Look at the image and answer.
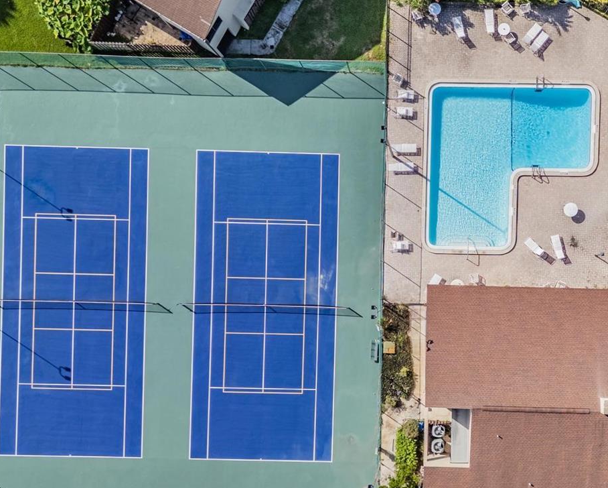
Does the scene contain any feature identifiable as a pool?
Yes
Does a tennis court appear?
Yes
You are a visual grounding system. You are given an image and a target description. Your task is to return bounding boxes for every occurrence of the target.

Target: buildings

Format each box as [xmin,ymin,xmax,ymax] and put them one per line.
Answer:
[132,0,272,58]
[423,286,608,488]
